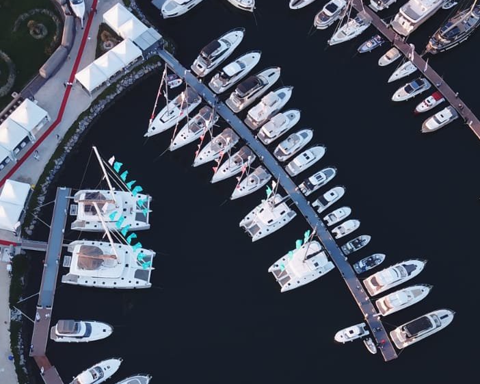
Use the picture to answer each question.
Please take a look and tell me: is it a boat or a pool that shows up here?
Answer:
boat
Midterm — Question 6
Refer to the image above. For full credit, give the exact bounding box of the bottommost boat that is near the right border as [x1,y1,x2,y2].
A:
[385,309,460,350]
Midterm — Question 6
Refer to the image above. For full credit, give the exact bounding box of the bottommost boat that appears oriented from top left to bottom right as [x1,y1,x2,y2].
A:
[363,337,376,353]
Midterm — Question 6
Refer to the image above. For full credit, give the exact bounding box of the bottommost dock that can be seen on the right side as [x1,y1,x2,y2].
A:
[183,72,398,363]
